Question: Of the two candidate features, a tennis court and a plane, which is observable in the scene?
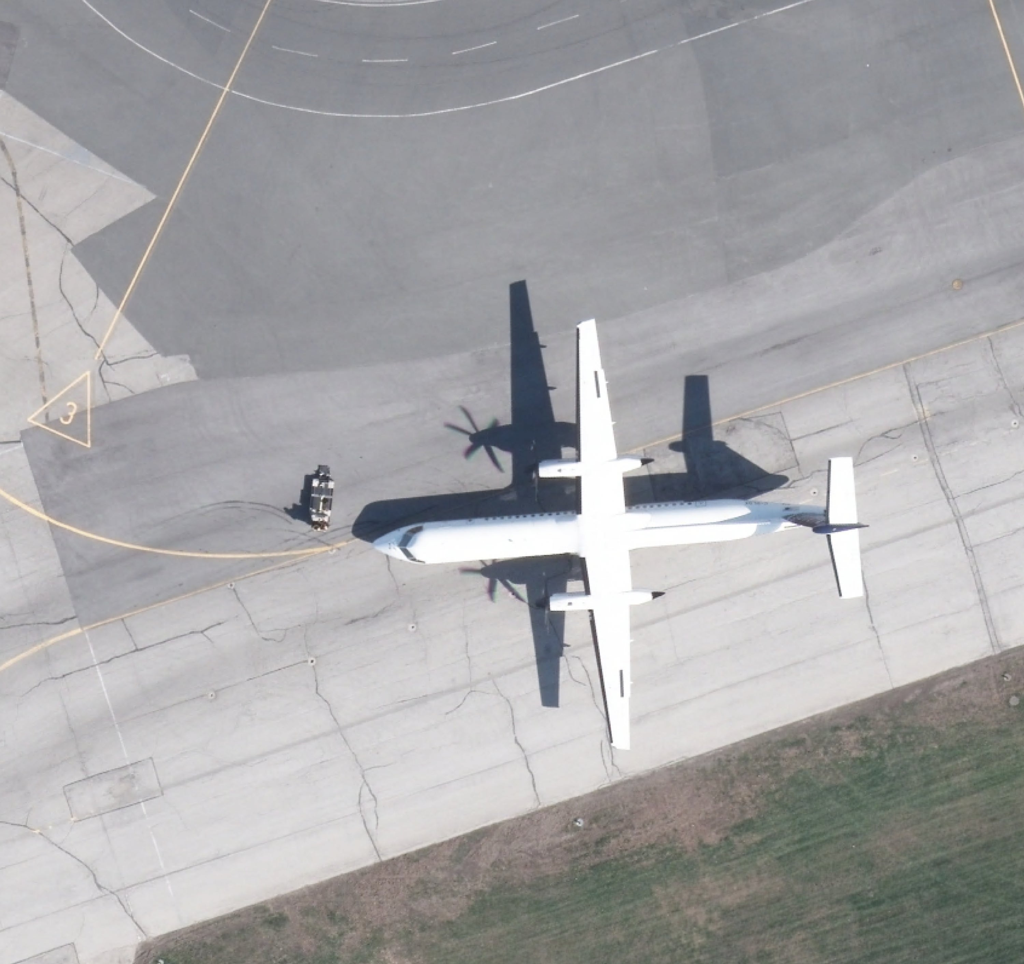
plane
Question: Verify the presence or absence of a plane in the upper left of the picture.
No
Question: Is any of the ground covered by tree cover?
No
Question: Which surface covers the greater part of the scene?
paved ground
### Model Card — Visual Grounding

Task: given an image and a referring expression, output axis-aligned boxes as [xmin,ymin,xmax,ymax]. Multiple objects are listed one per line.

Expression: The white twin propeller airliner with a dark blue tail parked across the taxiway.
[373,320,869,749]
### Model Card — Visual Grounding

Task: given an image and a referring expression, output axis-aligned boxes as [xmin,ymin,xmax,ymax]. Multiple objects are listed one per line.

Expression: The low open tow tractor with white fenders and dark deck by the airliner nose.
[310,465,334,532]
